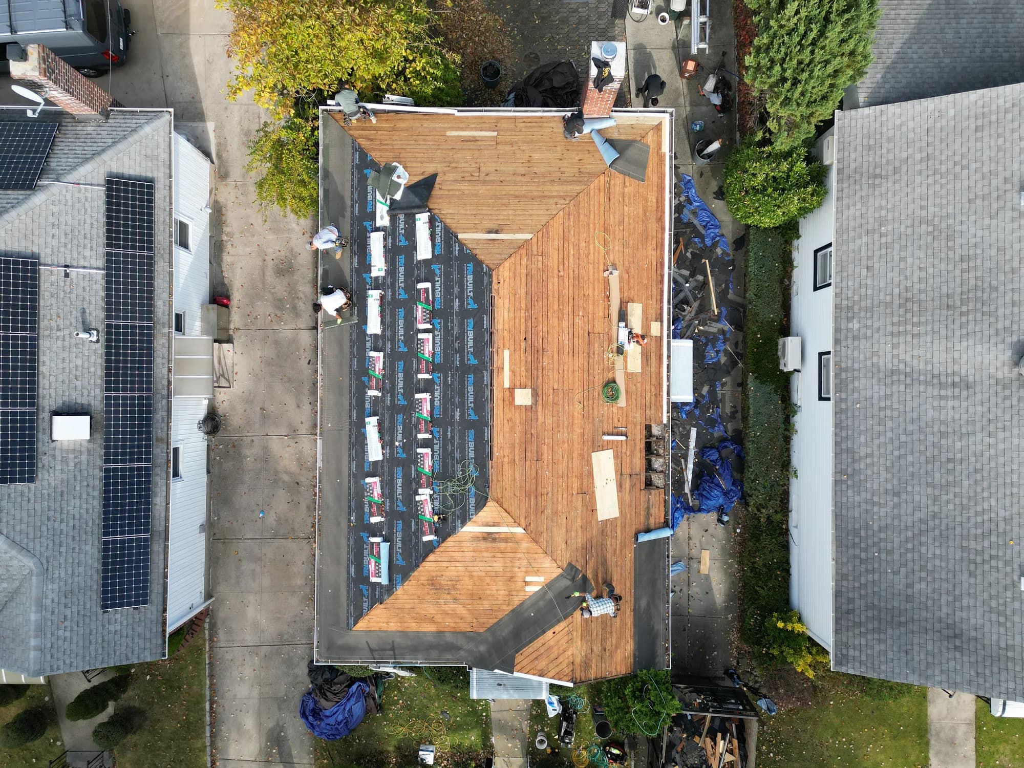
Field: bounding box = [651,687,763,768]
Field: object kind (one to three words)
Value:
trailer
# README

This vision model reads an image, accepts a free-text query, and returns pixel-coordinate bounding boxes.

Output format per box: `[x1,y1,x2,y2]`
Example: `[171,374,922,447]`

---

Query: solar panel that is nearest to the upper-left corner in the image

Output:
[0,121,61,191]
